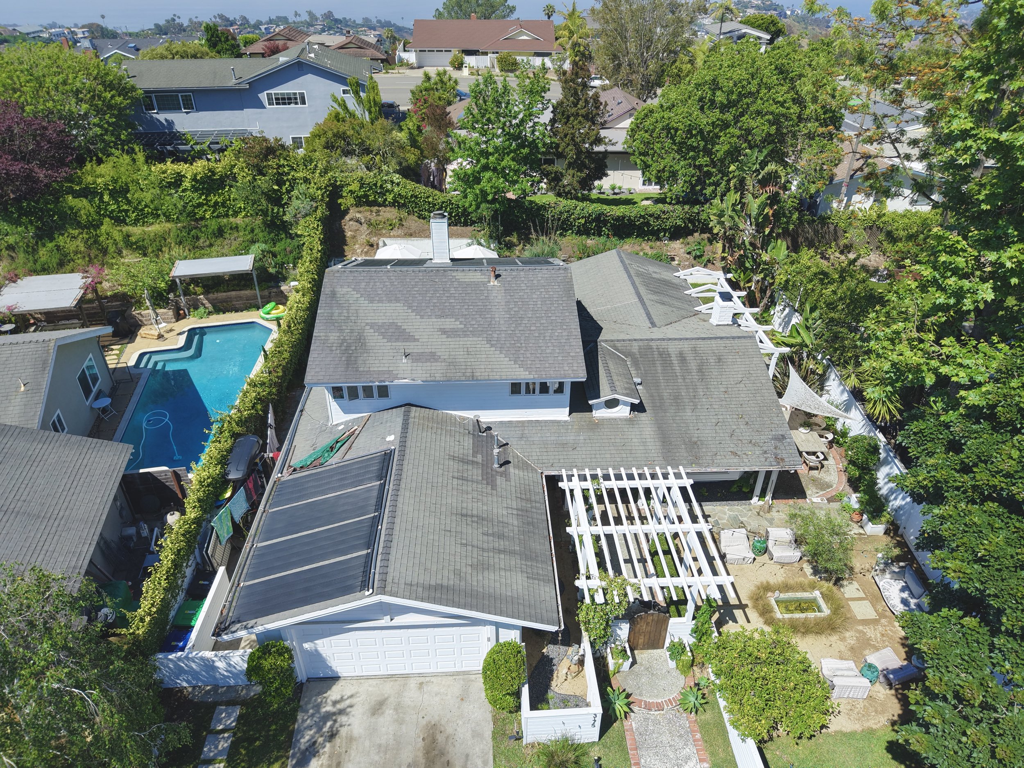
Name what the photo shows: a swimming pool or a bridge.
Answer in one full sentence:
There is a swimming pool in the scene.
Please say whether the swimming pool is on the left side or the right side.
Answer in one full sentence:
The swimming pool is on the left side of the image.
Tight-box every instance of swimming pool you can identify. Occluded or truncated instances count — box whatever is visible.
[109,316,282,468]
